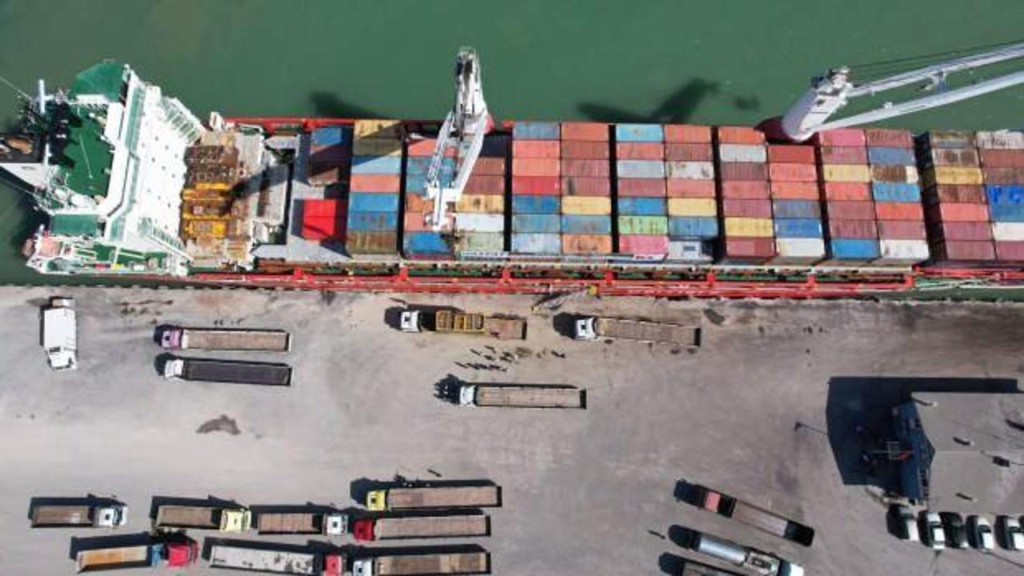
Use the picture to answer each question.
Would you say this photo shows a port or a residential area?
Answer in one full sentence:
This image shows a port.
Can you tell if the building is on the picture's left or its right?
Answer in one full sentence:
The building appears in the right half of the scene.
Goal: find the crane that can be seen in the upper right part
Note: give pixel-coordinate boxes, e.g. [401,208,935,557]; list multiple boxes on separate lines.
[752,41,1024,145]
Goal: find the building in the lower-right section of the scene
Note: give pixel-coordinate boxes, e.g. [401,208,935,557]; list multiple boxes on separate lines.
[891,390,1024,514]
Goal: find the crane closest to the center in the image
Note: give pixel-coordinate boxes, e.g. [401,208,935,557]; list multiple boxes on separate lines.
[424,55,494,249]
